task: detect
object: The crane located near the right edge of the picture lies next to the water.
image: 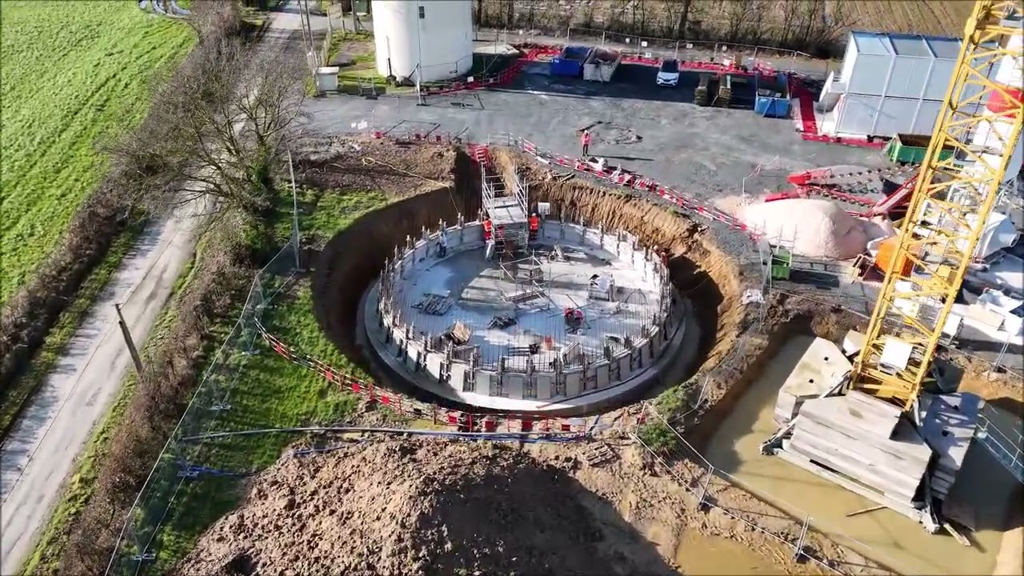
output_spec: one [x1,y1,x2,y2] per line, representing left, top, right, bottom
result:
[758,0,1024,525]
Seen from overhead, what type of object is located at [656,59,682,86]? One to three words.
car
